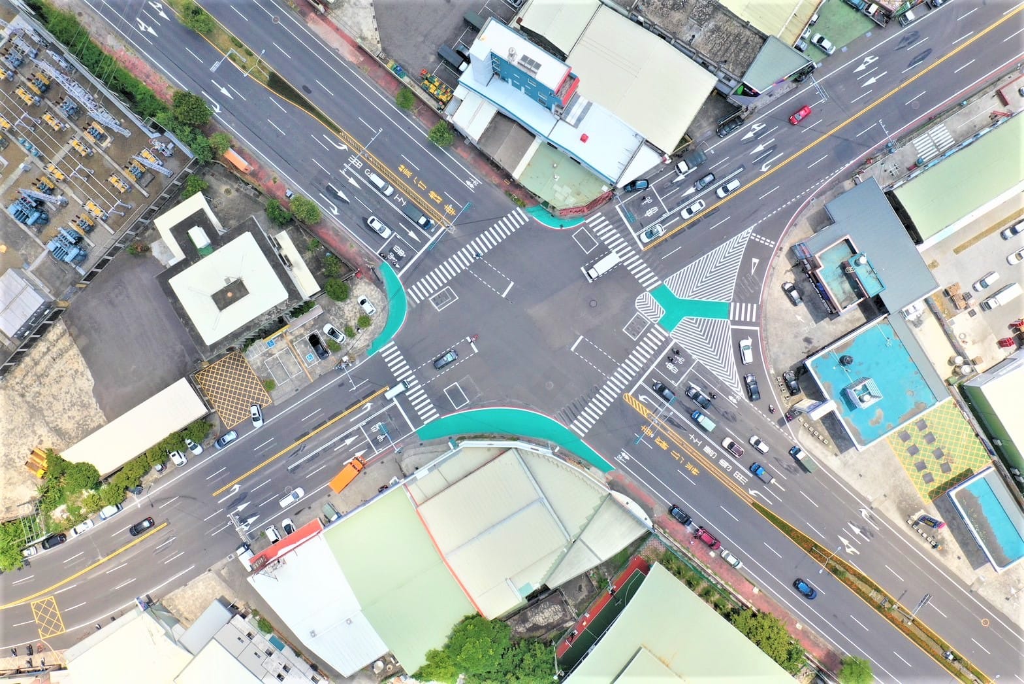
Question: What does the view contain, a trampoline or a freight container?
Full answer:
There is a freight container in the scene.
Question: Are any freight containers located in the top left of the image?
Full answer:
Yes, in the top left of the image there is a freight container.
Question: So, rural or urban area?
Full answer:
The land in this view is best described as urban.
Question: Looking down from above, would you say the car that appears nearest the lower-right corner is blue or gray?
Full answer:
The color of the car that appears nearest the lower-right corner is blue.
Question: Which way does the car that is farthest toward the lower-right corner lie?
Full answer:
The car that is farthest toward the lower-right corner runs on a diagonal in the image.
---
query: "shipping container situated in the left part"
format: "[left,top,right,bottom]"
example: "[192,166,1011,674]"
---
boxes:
[221,146,254,175]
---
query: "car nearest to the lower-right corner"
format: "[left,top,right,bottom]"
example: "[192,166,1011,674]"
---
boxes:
[792,577,816,599]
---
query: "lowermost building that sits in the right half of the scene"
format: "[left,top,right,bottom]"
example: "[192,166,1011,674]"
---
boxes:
[566,561,802,684]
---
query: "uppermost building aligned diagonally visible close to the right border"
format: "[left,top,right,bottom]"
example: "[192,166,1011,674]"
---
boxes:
[883,105,1024,249]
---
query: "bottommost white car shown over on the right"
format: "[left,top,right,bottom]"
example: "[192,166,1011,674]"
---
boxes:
[717,546,744,570]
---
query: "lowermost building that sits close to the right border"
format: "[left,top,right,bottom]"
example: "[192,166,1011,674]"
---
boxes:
[944,465,1024,572]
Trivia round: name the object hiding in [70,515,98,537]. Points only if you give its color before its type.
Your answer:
white car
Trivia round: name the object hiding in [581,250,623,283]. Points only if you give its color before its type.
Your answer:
white truck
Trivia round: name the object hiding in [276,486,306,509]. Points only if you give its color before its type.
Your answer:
white car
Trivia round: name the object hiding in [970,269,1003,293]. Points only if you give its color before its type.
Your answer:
white truck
